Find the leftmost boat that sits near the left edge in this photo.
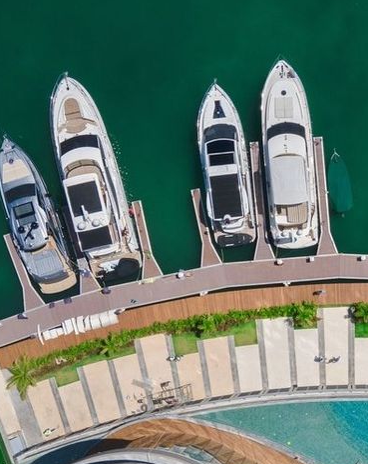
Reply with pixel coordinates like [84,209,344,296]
[0,132,80,297]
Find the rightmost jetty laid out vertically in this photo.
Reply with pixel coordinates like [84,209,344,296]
[314,137,338,255]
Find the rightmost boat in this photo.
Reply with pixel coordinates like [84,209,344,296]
[261,51,320,251]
